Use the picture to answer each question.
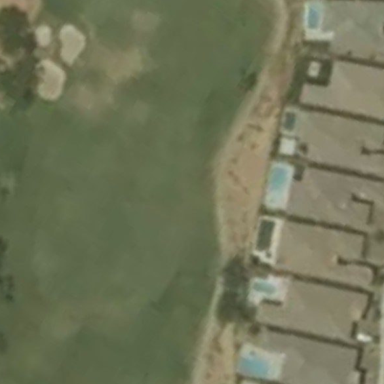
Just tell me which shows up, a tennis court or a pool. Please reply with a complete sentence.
The image shows a pool.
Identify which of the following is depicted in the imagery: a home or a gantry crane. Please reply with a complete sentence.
The one in the frame is a home.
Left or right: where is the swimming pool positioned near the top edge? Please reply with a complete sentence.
The swimming pool positioned near the top edge is on the right side of the image.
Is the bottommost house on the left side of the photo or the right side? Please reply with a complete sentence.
The bottommost house appears in the right half of the scene.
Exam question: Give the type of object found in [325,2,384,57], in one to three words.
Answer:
house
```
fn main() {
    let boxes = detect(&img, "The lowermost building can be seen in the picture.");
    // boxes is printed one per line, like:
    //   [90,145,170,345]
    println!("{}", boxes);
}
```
[261,331,364,384]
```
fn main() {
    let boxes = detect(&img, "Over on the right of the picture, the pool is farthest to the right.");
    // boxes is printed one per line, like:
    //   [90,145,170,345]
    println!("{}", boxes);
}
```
[306,1,327,39]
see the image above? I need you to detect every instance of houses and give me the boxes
[261,331,364,384]
[257,278,371,343]
[288,167,384,227]
[301,59,384,117]
[325,2,384,57]
[294,111,384,175]
[274,219,371,286]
